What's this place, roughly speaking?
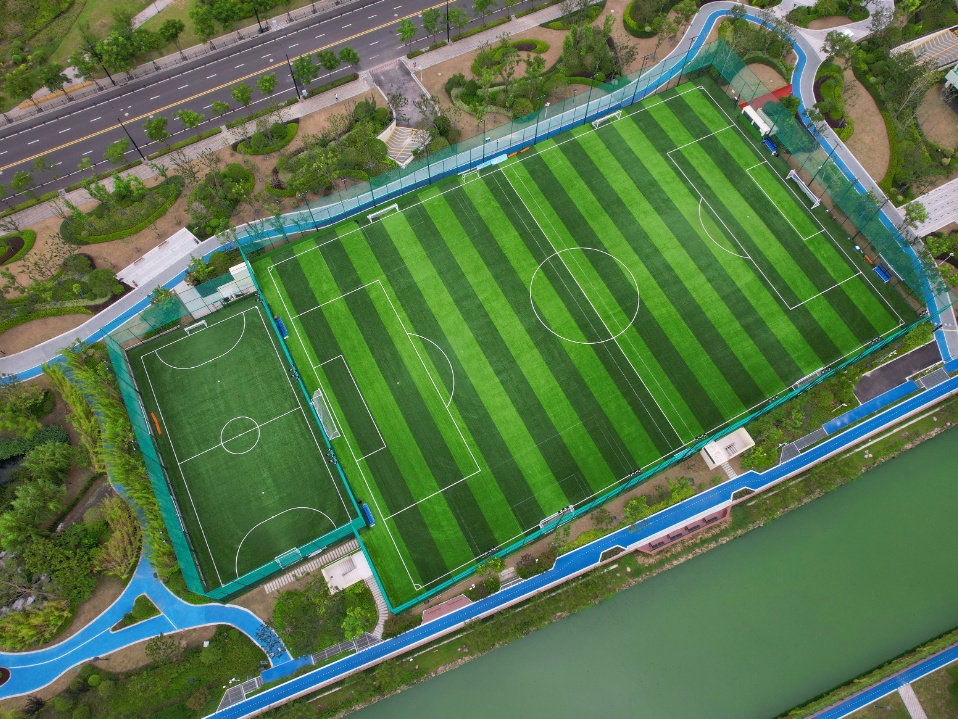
sports ground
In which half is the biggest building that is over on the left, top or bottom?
bottom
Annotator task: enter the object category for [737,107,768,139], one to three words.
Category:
building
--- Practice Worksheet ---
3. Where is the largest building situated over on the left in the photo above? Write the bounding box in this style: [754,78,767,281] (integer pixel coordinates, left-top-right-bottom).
[321,547,370,592]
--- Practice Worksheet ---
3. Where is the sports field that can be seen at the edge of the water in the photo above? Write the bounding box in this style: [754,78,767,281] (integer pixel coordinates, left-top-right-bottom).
[248,73,922,606]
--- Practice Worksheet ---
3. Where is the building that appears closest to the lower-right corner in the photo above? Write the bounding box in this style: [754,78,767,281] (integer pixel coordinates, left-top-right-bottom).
[700,430,756,469]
